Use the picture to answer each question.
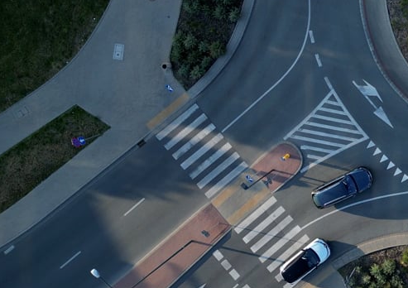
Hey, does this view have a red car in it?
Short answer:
No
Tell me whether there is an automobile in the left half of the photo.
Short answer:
No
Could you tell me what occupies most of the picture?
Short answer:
paved ground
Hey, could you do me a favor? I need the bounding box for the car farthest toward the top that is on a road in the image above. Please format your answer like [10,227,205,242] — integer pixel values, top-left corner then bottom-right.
[310,166,376,210]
